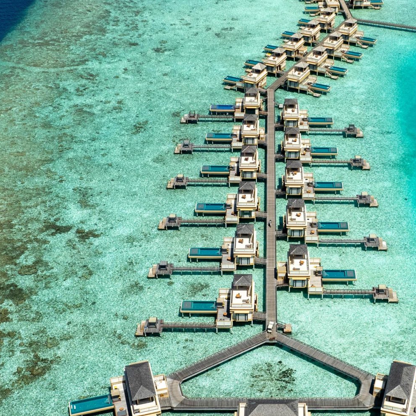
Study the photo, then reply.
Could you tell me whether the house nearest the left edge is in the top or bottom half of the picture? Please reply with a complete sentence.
It is in the bottom half that the house nearest the left edge appears.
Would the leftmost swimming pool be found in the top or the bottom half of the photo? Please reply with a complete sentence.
You can find the leftmost swimming pool in the bottom half.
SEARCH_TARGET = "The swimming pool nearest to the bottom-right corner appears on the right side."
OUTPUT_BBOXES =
[322,269,357,282]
